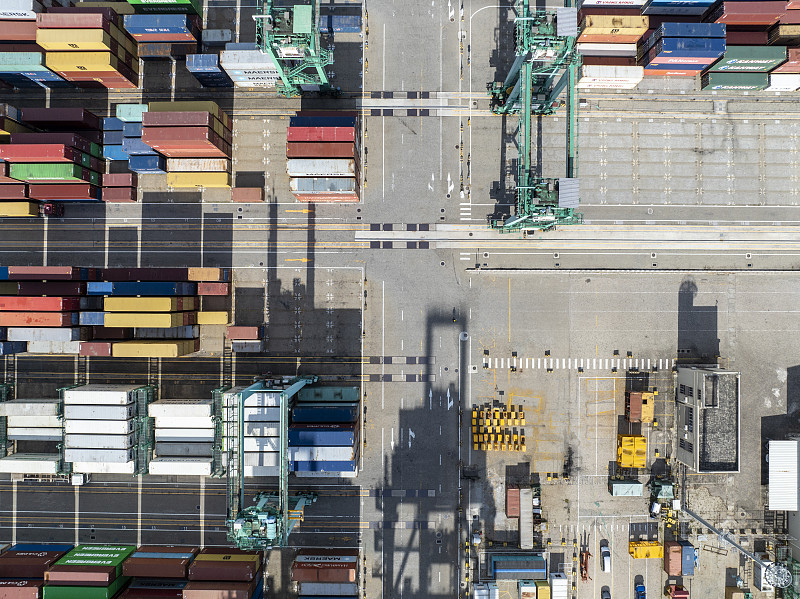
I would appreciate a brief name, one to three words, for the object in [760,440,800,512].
shed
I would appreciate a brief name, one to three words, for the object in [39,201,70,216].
vehicle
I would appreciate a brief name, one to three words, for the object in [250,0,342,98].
container crane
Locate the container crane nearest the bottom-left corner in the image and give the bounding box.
[223,369,318,555]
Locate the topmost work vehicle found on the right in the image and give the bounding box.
[652,468,677,504]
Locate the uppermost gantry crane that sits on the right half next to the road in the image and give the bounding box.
[492,0,588,99]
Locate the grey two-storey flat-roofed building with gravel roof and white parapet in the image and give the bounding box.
[676,369,741,476]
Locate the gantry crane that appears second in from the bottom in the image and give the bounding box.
[492,58,591,231]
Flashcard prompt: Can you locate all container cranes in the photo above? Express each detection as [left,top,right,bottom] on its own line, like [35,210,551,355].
[492,0,588,99]
[250,0,342,98]
[492,58,591,231]
[223,369,318,555]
